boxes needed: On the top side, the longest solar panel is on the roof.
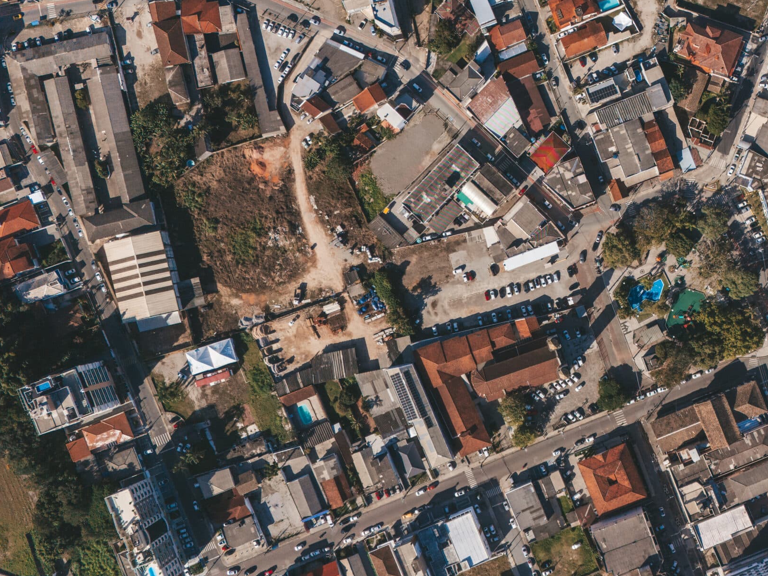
[588,84,618,103]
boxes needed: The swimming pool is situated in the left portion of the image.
[297,403,314,425]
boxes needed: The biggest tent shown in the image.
[185,337,241,374]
